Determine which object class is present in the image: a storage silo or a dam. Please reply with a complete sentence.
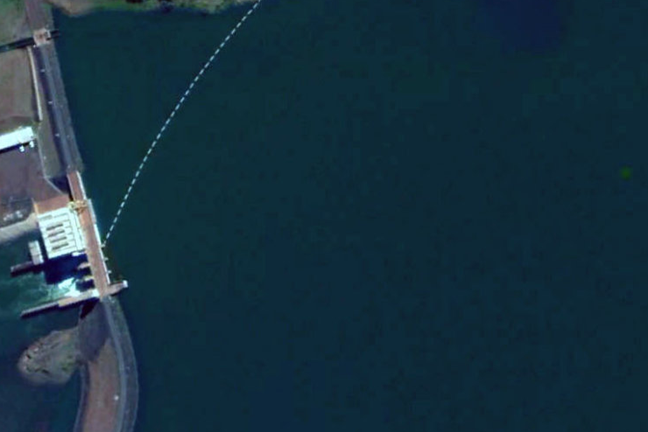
Visible in the photo is a dam.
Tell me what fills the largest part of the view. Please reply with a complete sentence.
What you mostly see from above here is water.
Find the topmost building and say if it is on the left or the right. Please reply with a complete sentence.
The topmost building is on the left side of the image.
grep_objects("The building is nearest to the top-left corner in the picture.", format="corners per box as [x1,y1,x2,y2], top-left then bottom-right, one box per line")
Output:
[0,126,38,150]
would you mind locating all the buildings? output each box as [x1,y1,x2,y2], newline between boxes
[0,126,38,150]
[32,196,89,257]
